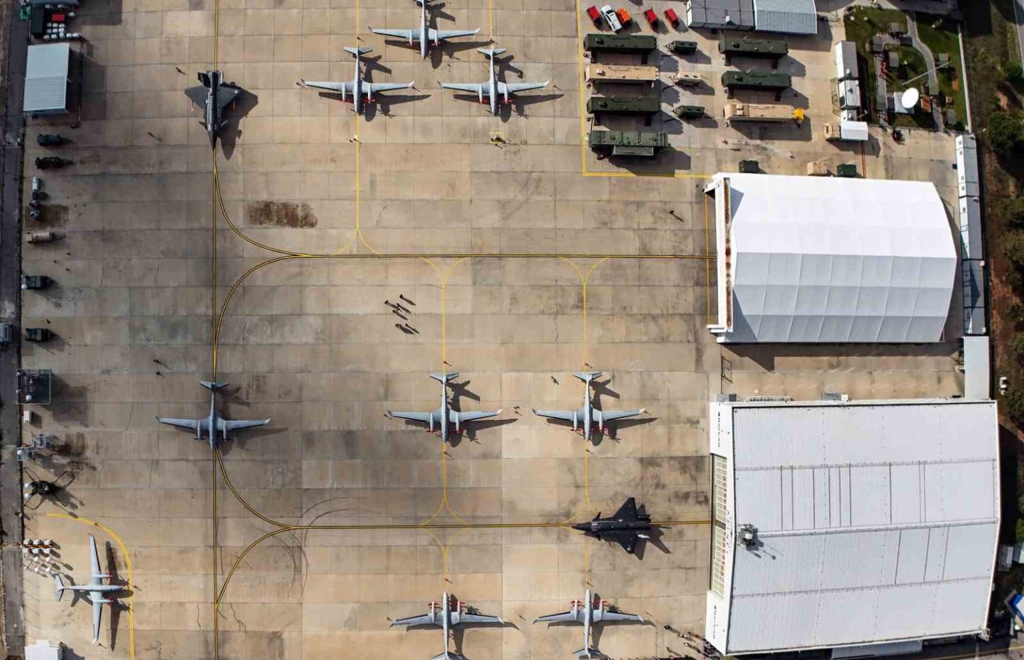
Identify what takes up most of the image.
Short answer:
paved ground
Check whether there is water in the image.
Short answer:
No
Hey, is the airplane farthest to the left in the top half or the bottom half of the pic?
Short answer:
bottom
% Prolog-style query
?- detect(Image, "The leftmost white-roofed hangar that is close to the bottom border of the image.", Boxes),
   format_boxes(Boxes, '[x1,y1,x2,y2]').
[706,398,1003,659]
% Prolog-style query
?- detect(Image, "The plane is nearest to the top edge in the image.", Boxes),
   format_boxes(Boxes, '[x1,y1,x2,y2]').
[372,0,476,55]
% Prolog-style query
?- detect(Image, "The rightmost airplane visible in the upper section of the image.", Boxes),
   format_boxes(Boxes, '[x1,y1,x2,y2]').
[439,42,547,113]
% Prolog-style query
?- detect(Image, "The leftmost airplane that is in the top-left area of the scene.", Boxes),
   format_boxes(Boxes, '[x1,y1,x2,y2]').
[186,70,241,148]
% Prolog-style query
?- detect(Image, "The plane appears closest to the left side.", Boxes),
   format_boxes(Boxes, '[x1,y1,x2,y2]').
[47,537,121,642]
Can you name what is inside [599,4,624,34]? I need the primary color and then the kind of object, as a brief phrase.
white truck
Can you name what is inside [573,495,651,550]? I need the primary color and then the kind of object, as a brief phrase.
black airplane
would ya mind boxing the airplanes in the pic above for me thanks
[573,495,651,550]
[153,380,268,448]
[47,537,121,642]
[387,373,501,440]
[186,70,241,148]
[388,591,503,660]
[303,42,410,110]
[534,591,644,660]
[532,373,644,441]
[372,0,476,55]
[439,42,547,113]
